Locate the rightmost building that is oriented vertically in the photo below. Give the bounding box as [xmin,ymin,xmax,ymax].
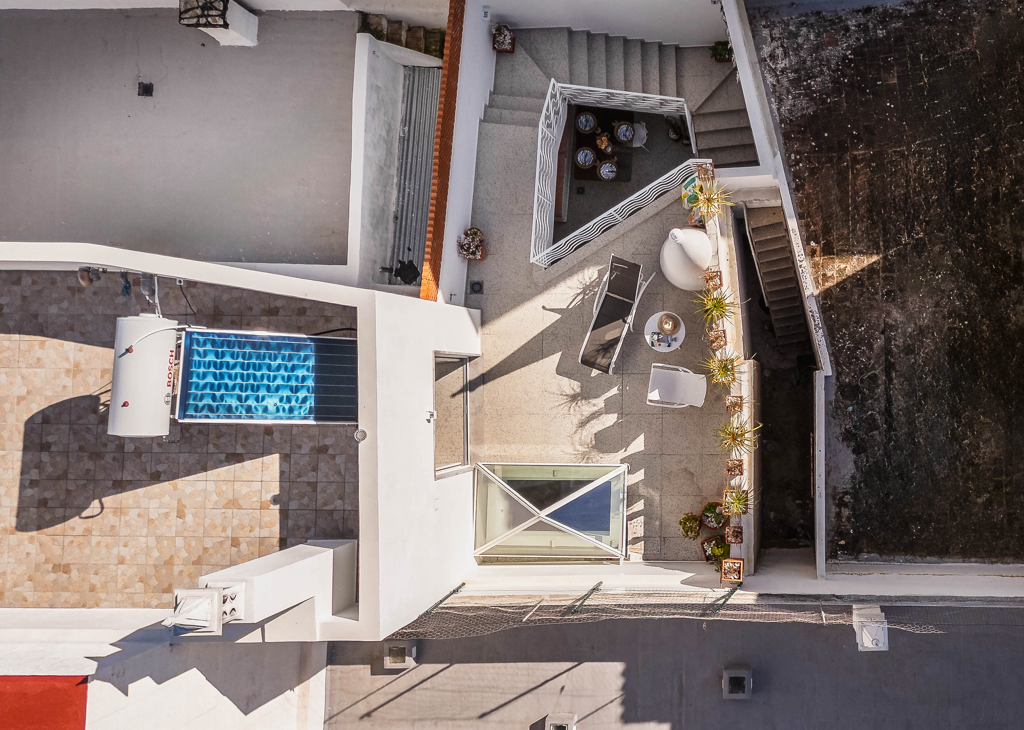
[758,0,1024,574]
